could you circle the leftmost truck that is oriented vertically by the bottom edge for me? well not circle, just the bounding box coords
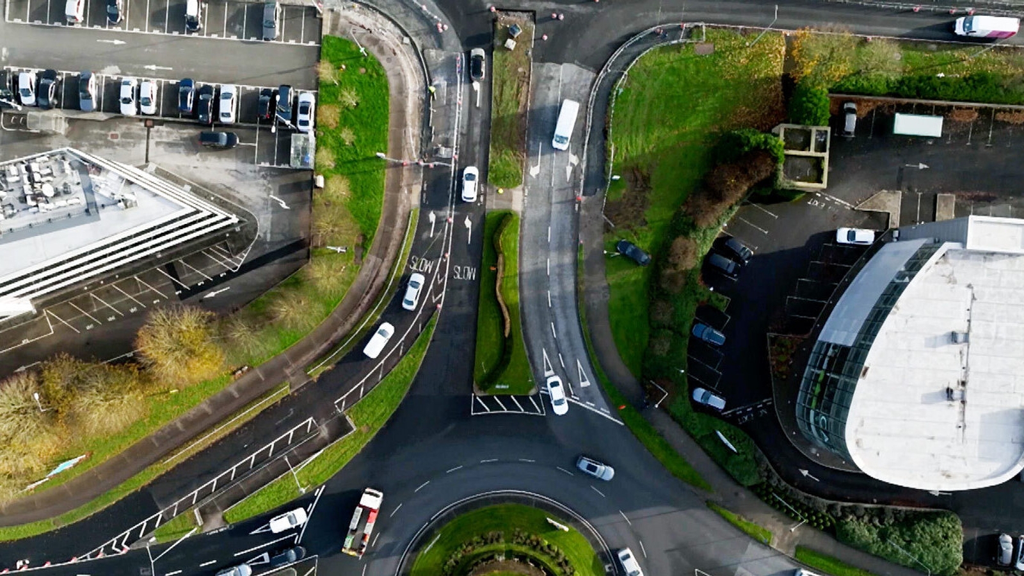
[343,490,381,565]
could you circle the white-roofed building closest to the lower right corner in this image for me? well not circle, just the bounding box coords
[797,216,1024,491]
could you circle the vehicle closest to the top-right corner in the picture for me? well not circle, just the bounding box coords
[956,16,1022,40]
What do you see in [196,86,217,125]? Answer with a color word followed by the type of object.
black car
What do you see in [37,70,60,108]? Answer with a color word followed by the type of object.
black car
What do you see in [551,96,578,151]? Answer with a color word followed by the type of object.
white vehicle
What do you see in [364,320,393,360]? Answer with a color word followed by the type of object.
white van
